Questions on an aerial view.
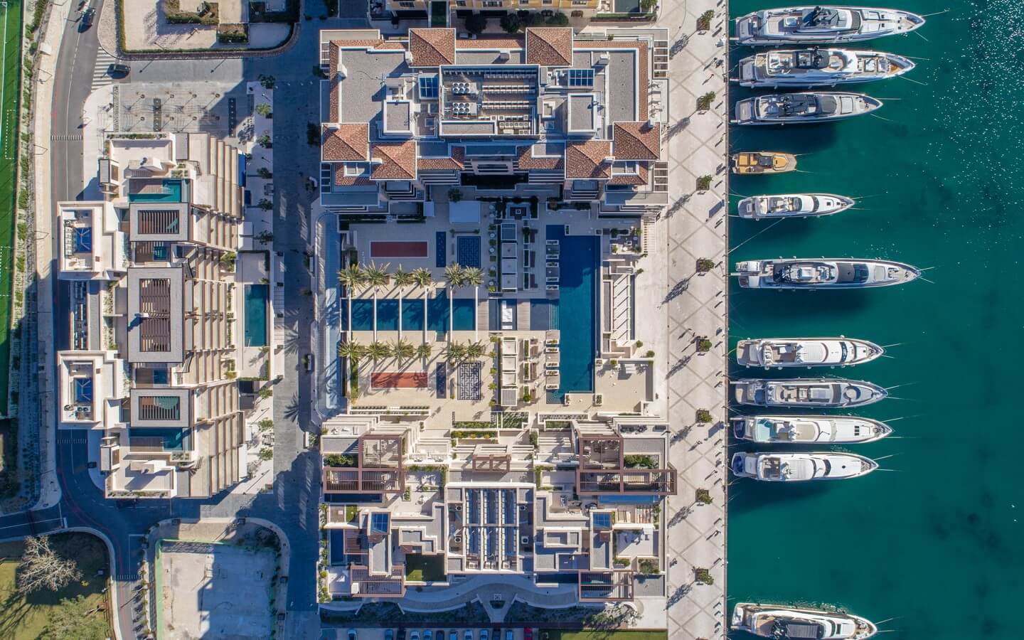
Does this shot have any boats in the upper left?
No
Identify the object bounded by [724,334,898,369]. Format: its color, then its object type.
white boat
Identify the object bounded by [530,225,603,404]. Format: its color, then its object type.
blue swimming pool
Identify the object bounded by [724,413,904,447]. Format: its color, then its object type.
white boat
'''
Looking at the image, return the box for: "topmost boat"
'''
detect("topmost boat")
[723,6,942,52]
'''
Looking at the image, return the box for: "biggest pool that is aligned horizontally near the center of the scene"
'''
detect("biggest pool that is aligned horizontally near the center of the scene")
[343,287,475,341]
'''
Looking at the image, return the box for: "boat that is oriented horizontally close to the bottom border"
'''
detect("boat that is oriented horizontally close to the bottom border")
[725,598,893,640]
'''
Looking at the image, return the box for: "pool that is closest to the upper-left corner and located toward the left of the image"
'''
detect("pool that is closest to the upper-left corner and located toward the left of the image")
[128,179,184,203]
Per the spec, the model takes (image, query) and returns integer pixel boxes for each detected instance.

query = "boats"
[724,376,899,410]
[724,451,896,487]
[724,413,904,447]
[725,191,871,252]
[724,334,898,369]
[723,6,942,52]
[724,255,932,297]
[725,49,927,93]
[725,598,893,640]
[725,93,898,129]
[724,149,814,174]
